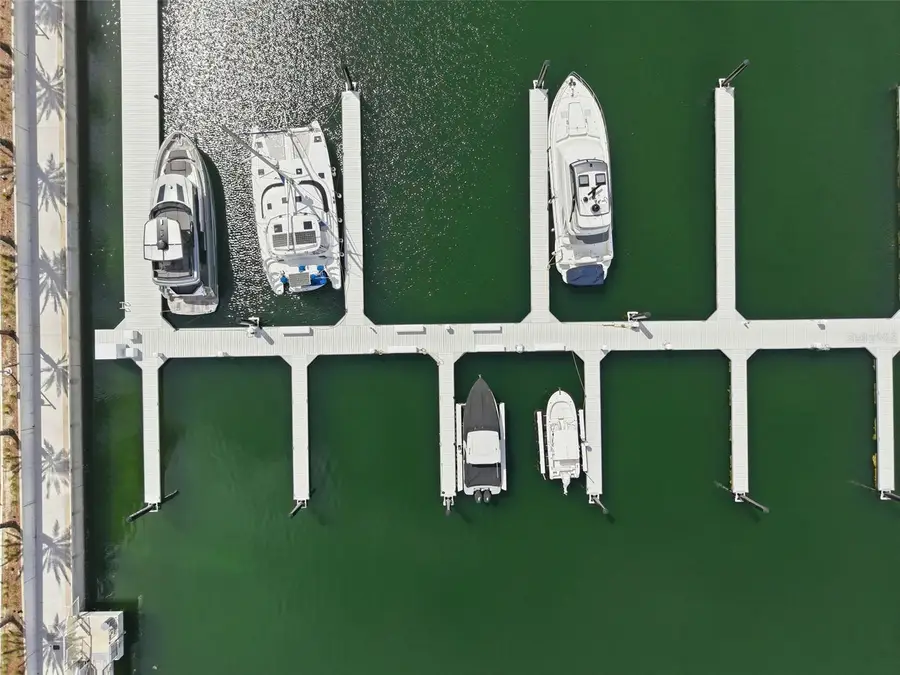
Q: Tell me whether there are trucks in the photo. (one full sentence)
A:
No, there's no truck here.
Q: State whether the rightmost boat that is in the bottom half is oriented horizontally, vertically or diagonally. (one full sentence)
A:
What the image shows is the rightmost boat that is in the bottom half lying vertically.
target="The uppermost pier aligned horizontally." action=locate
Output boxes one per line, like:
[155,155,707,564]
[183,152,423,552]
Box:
[94,317,900,357]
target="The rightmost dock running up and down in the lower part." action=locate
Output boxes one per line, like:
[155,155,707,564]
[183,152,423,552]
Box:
[864,345,900,499]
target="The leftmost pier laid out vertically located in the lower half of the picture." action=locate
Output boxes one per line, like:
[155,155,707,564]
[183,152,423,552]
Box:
[131,356,170,511]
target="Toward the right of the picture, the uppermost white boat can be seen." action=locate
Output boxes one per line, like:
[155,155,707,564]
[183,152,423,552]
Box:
[548,68,613,287]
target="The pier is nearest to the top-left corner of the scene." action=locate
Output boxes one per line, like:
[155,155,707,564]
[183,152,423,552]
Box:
[112,0,178,328]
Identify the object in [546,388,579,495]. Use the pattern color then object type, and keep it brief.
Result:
white boat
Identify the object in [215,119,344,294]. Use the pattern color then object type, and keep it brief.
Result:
white boat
